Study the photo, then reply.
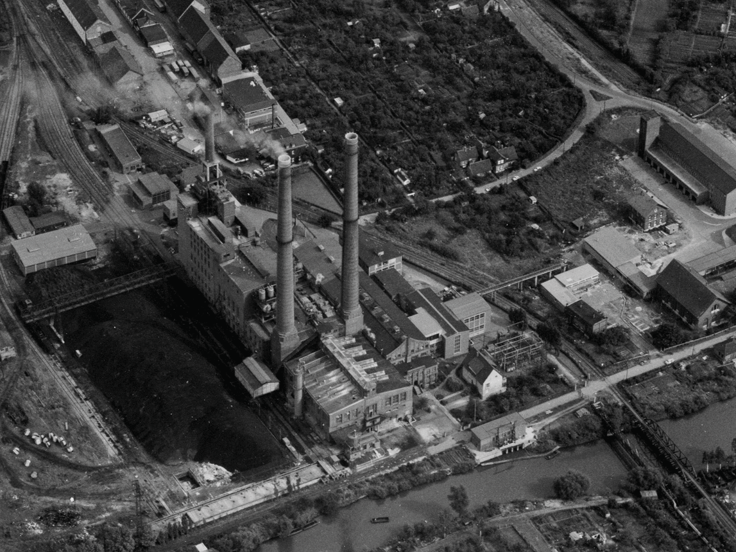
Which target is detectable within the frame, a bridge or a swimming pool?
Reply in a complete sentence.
The one in the frame is a bridge.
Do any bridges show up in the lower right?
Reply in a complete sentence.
Yes, I can see a bridge in the lower right.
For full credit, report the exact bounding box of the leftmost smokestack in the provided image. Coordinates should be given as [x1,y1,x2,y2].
[198,108,225,187]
